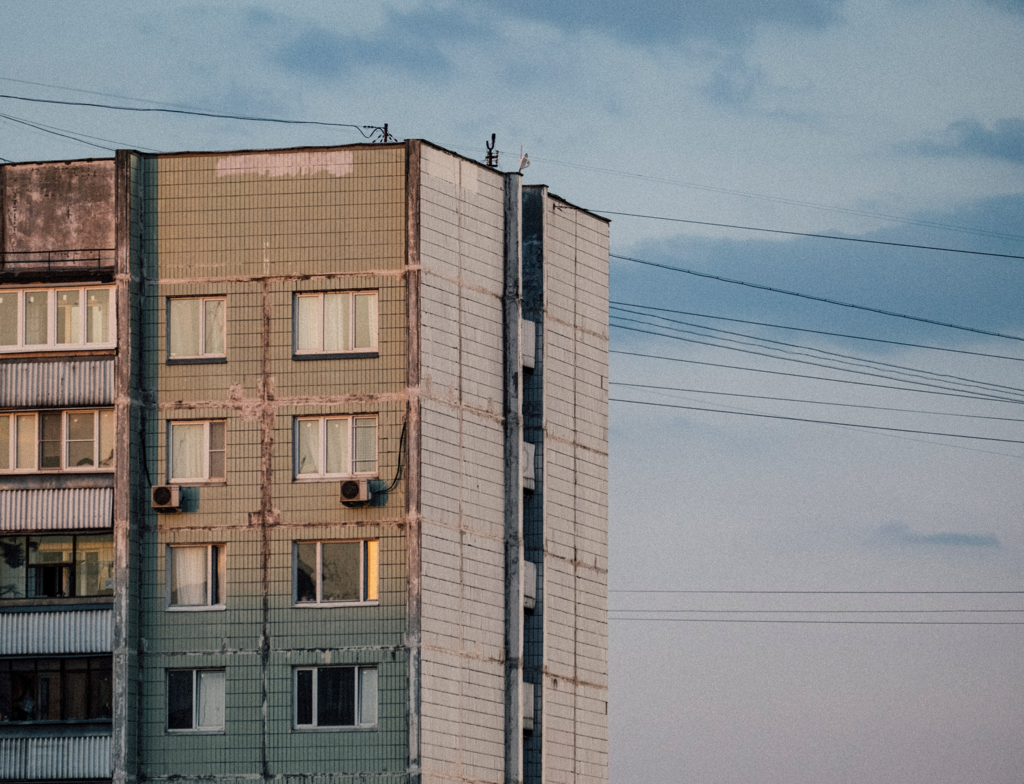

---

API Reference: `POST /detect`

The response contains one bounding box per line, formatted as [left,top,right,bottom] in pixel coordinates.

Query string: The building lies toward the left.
[0,139,611,784]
